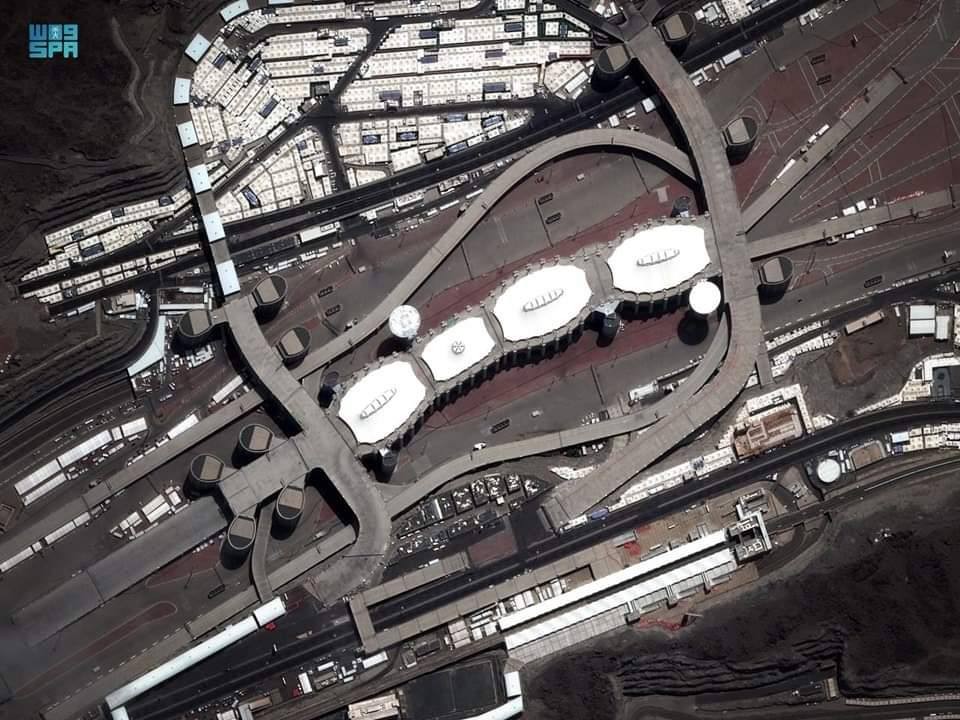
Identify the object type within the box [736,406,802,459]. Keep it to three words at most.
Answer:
building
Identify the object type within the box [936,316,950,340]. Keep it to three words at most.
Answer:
building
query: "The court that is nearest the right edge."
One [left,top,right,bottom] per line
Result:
[847,439,889,472]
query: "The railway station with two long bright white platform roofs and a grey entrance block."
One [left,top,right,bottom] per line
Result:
[498,488,771,673]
